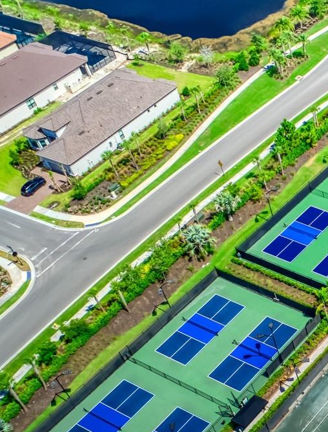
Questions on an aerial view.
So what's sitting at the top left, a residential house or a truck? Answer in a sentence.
What appears at the top left is a residential house.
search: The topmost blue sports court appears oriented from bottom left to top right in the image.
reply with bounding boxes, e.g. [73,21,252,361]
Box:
[262,206,328,261]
